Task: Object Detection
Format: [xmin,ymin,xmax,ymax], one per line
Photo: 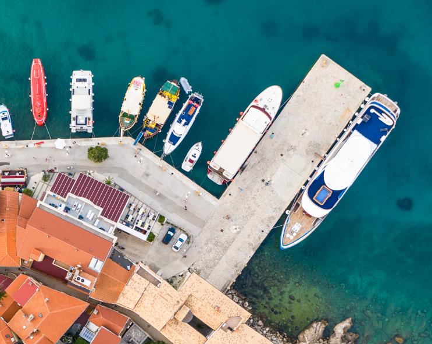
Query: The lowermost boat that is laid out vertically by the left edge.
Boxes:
[0,104,15,140]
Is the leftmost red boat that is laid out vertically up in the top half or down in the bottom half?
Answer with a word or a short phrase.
top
